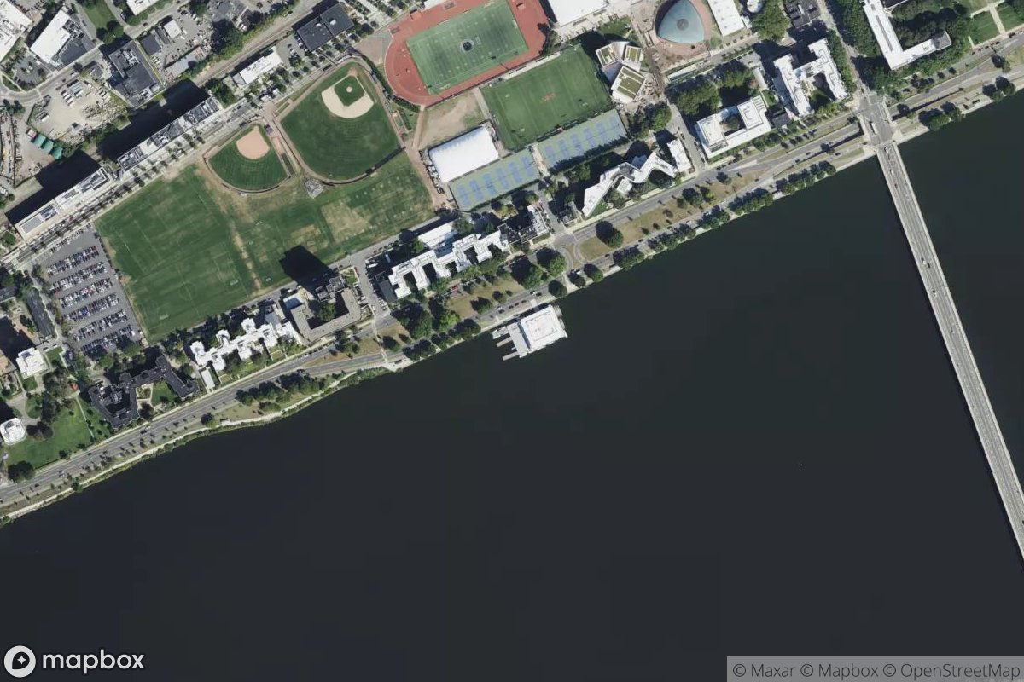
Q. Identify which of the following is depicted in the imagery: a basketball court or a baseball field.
baseball field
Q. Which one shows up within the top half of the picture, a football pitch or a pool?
football pitch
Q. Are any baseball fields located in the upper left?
Yes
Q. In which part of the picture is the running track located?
top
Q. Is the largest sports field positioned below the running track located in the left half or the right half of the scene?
left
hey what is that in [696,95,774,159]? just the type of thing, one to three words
building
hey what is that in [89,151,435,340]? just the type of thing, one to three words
sports field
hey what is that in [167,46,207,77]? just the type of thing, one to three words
shed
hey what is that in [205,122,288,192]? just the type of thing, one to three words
baseball field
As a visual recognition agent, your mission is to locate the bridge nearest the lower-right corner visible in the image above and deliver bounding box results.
[877,145,1024,558]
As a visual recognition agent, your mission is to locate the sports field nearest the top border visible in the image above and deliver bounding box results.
[406,0,528,94]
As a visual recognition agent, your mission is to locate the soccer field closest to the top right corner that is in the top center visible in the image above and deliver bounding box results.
[482,41,611,151]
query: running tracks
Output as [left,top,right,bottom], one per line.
[387,0,546,102]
